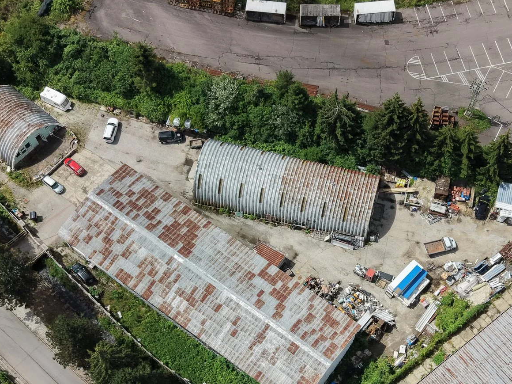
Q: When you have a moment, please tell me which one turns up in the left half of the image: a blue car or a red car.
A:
red car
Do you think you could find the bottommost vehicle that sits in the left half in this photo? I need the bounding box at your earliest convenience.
[69,262,96,286]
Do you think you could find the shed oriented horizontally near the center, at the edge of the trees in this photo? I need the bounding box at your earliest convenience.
[193,136,382,246]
